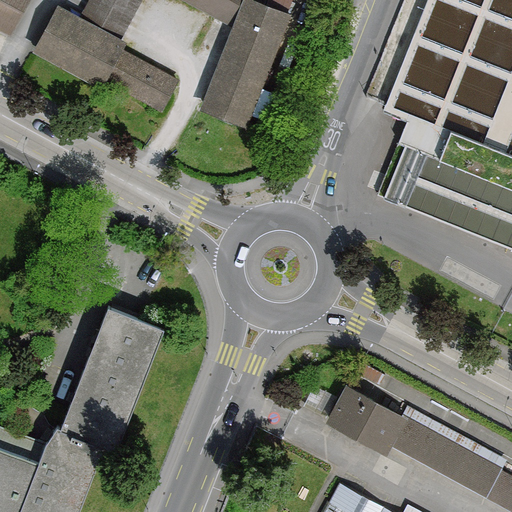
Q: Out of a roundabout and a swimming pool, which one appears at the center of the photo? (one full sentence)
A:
Looking at the center of the photo, you will find a roundabout.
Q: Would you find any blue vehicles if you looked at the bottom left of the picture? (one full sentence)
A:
Yes, the scene does show a blue vehicle at the bottom left of the picture.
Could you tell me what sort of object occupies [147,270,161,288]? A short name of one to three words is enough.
car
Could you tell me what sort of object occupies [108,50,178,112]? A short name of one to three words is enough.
house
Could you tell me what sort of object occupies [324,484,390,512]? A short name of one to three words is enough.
building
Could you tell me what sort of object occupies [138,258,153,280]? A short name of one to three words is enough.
car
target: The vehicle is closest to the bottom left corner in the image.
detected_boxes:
[57,370,73,400]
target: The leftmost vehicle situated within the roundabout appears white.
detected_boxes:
[235,244,249,268]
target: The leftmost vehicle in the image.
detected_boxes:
[30,119,54,137]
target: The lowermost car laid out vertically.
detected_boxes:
[224,402,238,426]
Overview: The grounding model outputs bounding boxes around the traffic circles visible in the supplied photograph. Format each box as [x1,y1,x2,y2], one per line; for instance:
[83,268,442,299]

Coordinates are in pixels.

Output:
[214,200,346,333]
